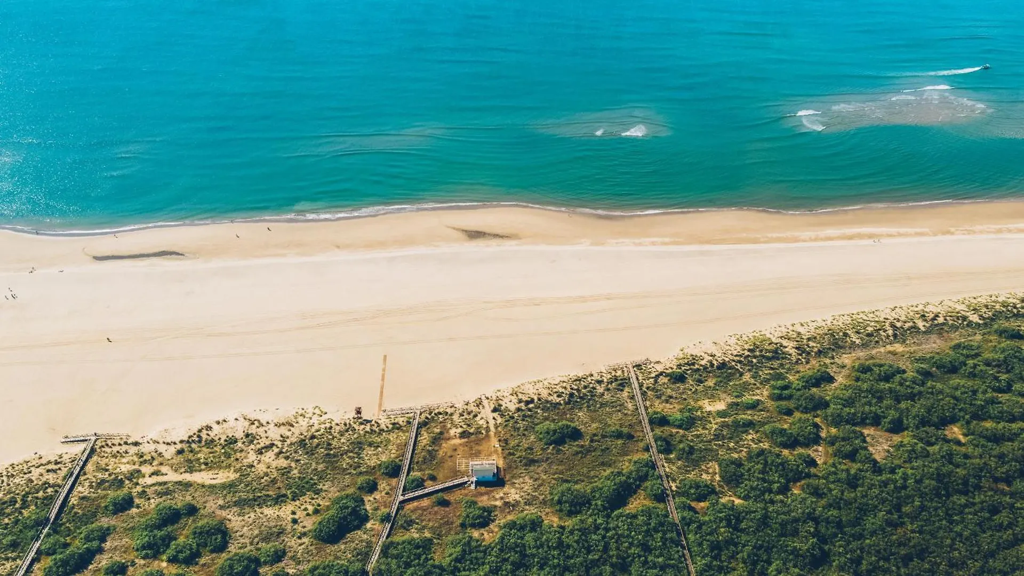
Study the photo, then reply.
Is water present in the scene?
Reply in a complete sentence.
Yes, water shows up in the scene.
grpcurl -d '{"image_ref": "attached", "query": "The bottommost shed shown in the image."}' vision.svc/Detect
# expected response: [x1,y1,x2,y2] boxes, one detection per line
[457,458,497,489]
